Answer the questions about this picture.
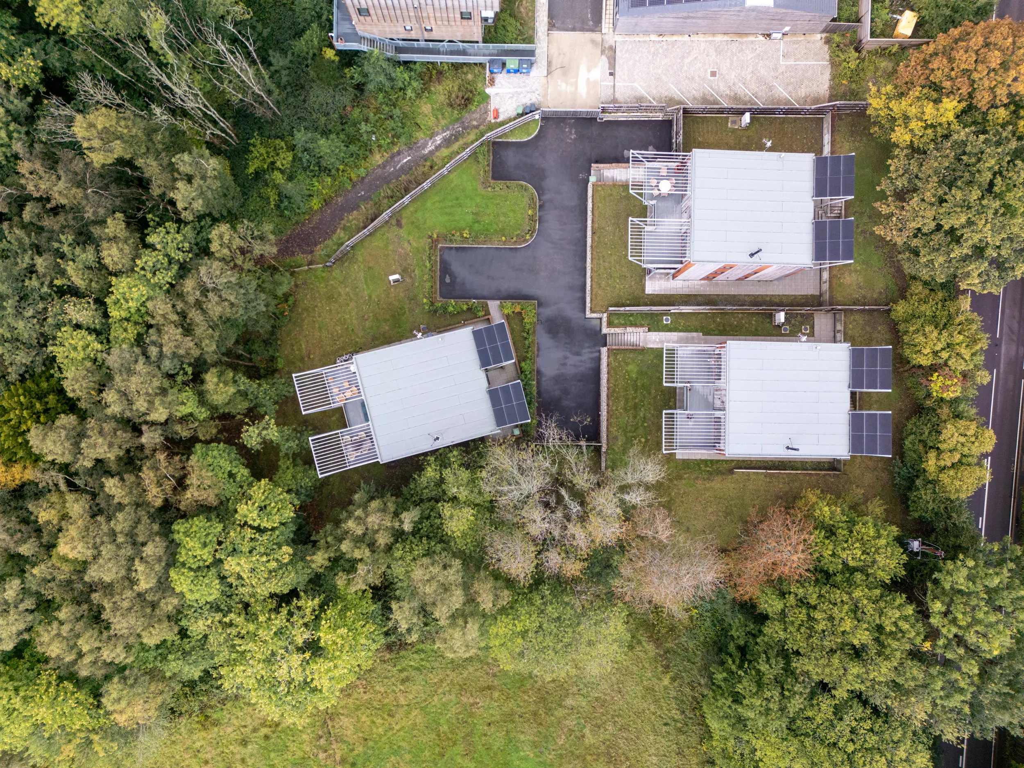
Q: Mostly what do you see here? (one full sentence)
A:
What you mostly see from above here is trees.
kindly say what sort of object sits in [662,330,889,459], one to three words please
house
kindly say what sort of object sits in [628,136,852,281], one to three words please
house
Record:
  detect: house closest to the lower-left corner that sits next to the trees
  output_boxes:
[293,319,531,475]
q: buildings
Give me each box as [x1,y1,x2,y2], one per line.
[628,136,852,281]
[348,0,502,48]
[293,319,531,475]
[662,330,889,459]
[611,0,839,36]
